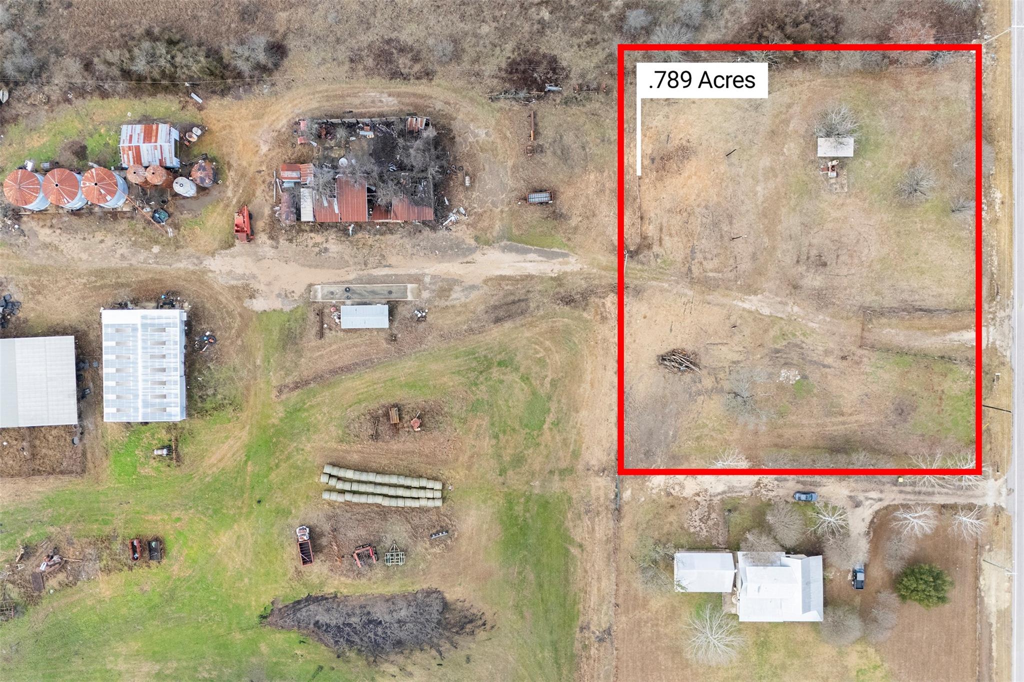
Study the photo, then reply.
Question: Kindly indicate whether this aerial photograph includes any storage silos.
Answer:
Yes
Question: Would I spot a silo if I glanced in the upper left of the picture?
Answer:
Yes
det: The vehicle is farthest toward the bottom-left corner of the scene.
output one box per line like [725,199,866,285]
[295,525,314,567]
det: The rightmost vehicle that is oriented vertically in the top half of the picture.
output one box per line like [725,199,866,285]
[234,205,254,245]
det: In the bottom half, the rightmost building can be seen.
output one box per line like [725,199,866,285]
[735,549,823,626]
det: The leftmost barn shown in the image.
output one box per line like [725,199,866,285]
[0,336,88,428]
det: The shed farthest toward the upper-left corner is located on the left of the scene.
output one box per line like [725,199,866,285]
[119,124,181,170]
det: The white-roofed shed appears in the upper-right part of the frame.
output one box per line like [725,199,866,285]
[812,138,853,159]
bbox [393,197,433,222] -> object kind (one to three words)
shed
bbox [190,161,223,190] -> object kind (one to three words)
silo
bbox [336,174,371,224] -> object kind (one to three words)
barn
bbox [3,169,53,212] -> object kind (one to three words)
silo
